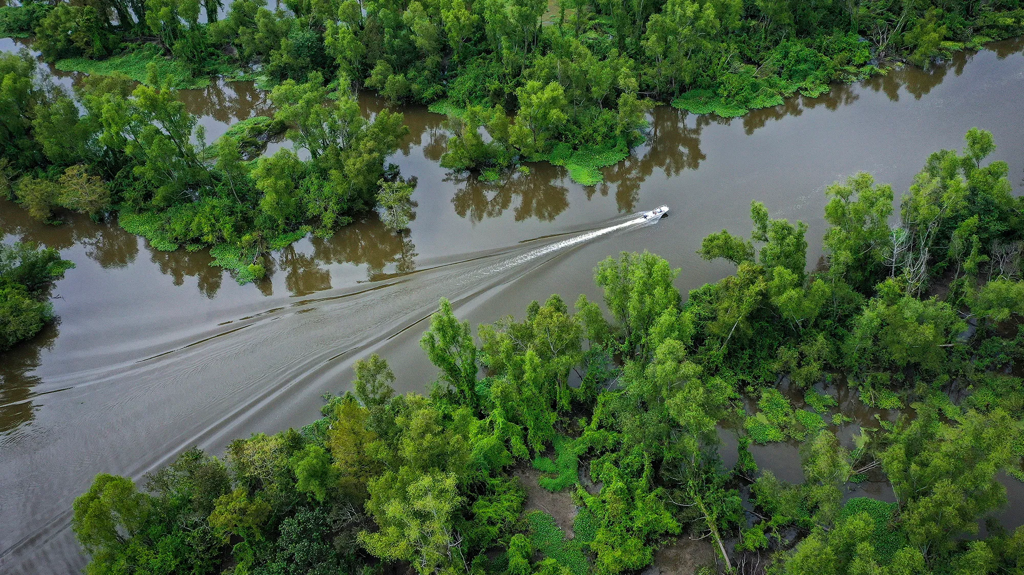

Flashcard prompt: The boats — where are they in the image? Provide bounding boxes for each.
[642,201,670,221]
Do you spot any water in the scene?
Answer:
Yes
